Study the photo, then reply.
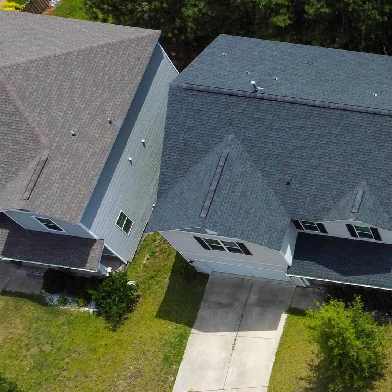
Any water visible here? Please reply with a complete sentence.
No, there is no water in the image.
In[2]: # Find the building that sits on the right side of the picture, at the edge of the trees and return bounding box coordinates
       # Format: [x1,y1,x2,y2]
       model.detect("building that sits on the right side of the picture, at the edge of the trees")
[144,35,392,294]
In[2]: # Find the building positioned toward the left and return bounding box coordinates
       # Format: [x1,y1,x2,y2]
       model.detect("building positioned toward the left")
[0,12,180,284]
